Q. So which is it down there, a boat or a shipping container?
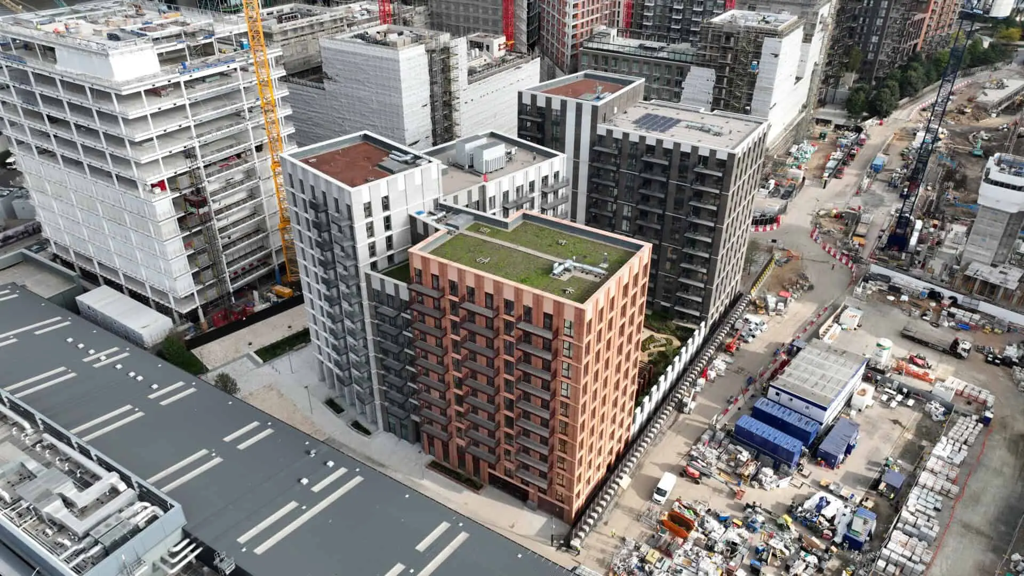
shipping container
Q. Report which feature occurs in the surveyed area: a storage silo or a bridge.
storage silo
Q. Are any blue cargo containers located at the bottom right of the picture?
Yes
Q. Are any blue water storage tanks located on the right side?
No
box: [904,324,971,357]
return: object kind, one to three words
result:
truck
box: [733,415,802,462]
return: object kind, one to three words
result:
shipping container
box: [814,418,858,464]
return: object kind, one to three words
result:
shipping container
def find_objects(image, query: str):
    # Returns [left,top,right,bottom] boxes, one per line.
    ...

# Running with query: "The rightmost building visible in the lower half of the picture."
[766,338,861,433]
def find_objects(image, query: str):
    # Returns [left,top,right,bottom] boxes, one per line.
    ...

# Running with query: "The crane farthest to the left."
[244,0,303,285]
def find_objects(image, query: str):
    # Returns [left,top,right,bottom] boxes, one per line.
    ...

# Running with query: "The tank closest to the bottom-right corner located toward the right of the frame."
[849,389,877,418]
